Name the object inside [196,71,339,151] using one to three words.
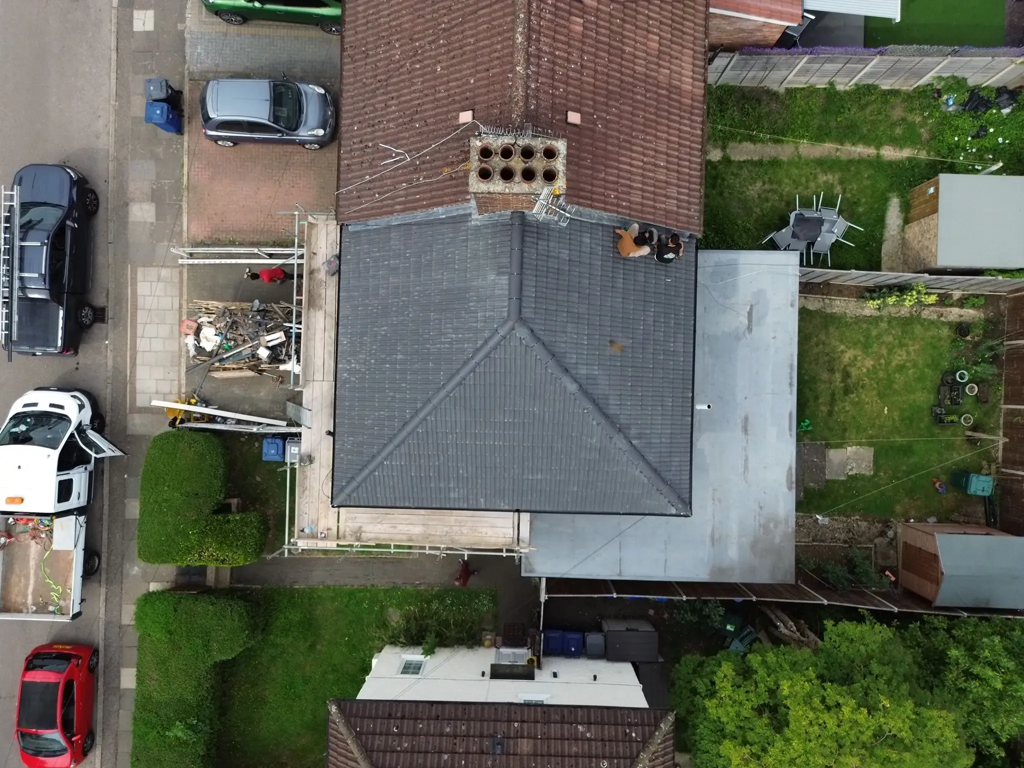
car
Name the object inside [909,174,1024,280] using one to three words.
shed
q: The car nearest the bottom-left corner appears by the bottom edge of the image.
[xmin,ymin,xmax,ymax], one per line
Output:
[2,637,96,768]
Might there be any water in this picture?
No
